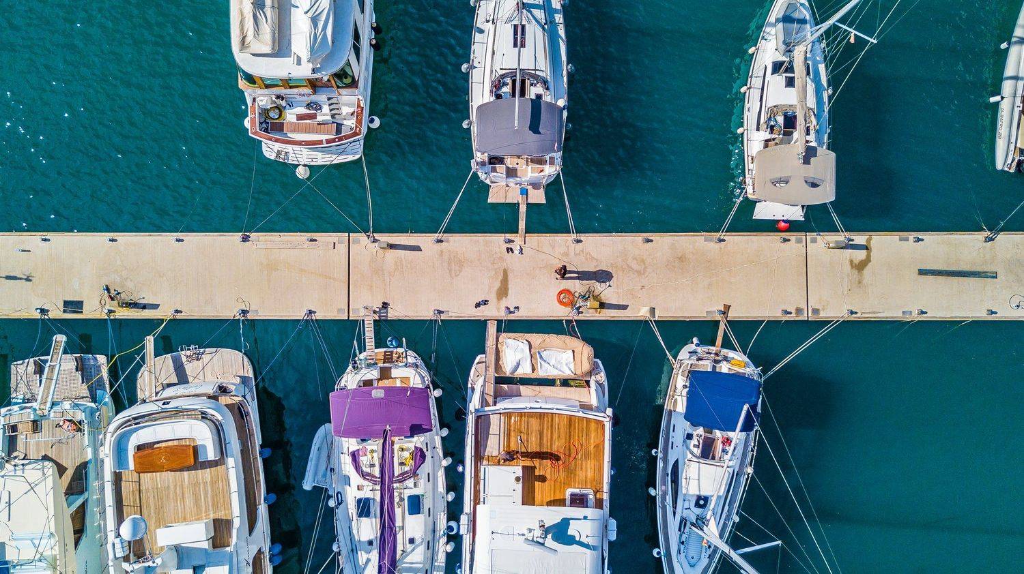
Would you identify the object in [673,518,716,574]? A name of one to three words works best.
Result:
boat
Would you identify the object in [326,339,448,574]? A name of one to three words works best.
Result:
boat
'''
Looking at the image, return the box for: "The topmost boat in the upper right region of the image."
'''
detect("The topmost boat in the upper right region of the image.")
[773,0,816,59]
